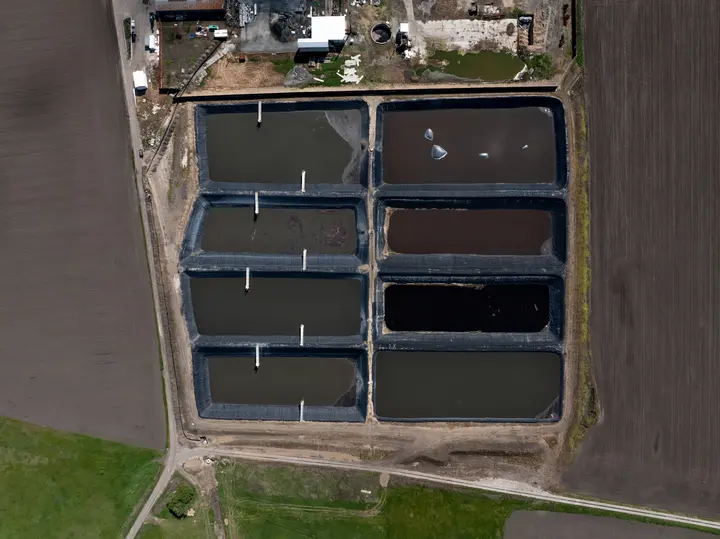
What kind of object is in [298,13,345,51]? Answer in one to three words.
building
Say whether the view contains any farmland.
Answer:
Yes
